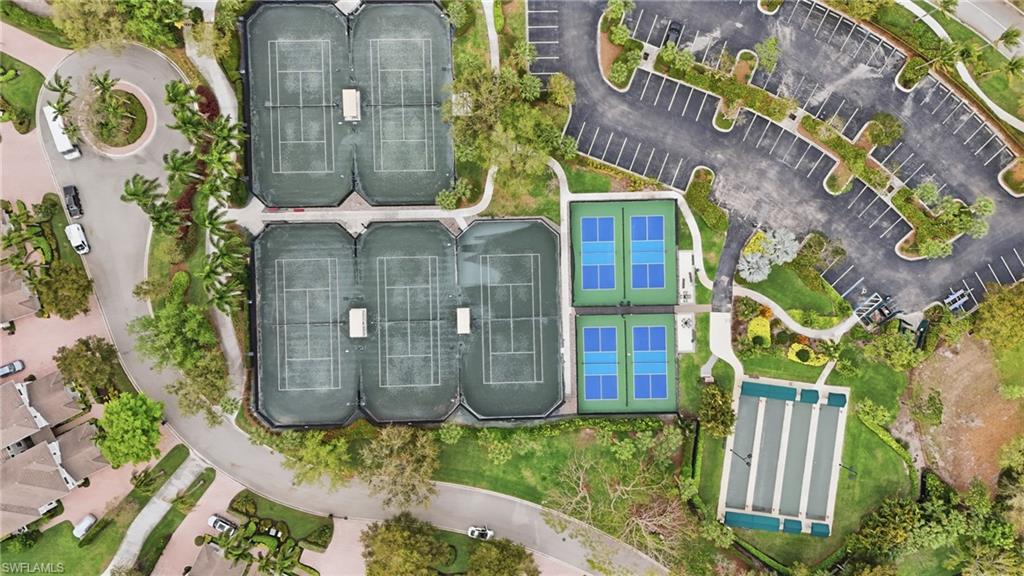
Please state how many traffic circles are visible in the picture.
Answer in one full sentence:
Just 1 traffic circle appears in this view.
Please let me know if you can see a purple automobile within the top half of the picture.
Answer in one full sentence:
No, no purple automobile appears within the top half of the picture.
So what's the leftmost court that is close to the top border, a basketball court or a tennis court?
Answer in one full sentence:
The leftmost court that is close to the top border appears to be a tennis court.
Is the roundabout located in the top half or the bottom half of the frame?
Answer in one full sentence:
You can find the roundabout in the top half.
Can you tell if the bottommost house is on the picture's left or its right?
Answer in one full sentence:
The bottommost house appears in the left half of the scene.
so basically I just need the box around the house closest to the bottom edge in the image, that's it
[191,542,252,576]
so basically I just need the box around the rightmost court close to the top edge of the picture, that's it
[349,2,455,202]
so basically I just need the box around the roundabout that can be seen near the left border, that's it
[34,37,193,193]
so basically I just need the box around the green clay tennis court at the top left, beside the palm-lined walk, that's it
[249,4,353,203]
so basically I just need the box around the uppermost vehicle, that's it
[663,20,679,47]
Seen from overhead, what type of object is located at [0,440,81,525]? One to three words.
house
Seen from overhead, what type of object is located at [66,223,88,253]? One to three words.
vehicle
